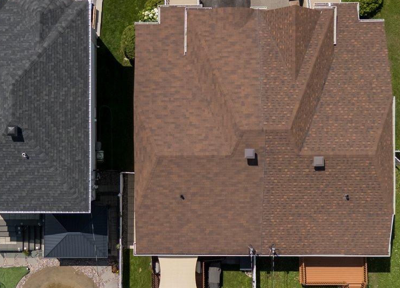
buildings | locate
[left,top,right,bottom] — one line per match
[131,3,396,260]
[0,0,106,212]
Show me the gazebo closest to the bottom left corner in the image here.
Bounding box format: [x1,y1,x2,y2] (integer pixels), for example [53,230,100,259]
[42,202,108,259]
